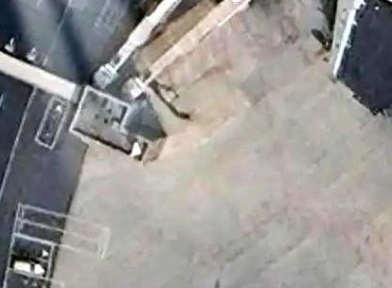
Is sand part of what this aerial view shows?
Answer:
No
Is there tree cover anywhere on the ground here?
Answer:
No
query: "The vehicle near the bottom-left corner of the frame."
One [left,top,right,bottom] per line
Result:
[13,261,45,276]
